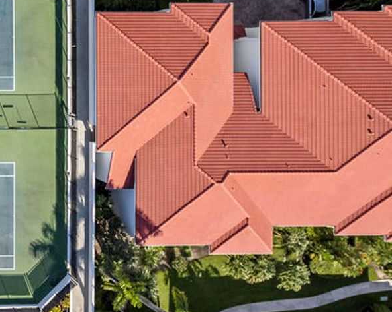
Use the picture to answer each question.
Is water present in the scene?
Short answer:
No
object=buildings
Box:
[94,1,392,255]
